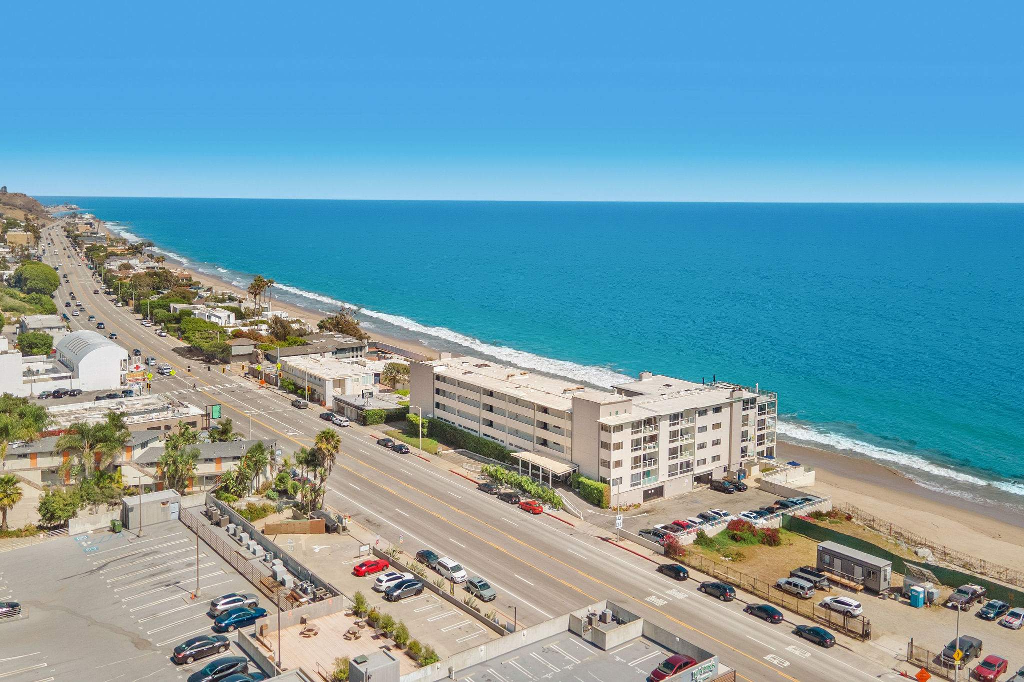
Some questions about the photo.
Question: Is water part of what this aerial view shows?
Yes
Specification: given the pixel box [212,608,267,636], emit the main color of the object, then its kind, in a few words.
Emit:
blue car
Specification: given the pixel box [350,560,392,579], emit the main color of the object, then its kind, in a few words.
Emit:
red car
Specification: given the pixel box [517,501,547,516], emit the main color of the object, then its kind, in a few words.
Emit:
red car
